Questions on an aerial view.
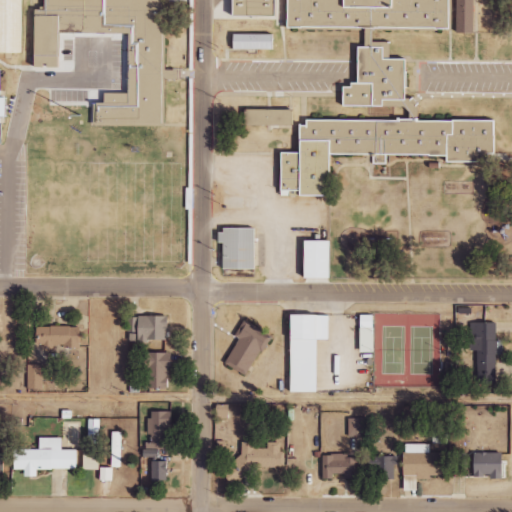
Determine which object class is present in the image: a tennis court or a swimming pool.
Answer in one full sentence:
The image shows a tennis court.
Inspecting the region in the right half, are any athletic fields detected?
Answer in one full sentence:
No, no athletic field is visible in the right half.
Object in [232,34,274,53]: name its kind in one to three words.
building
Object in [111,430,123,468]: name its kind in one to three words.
house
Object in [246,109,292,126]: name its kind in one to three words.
shed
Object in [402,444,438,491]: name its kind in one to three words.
house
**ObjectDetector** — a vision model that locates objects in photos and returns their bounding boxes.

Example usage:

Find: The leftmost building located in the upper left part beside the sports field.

[34,0,164,124]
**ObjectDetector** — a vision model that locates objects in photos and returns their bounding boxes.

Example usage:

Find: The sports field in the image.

[56,161,184,264]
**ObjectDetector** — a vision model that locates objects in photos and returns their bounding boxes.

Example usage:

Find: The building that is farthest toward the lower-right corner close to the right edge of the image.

[474,452,508,478]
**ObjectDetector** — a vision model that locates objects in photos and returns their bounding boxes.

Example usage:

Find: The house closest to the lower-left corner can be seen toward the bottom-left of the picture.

[14,437,78,477]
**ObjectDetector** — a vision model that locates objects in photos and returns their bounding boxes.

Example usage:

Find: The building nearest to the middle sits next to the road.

[218,228,258,276]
